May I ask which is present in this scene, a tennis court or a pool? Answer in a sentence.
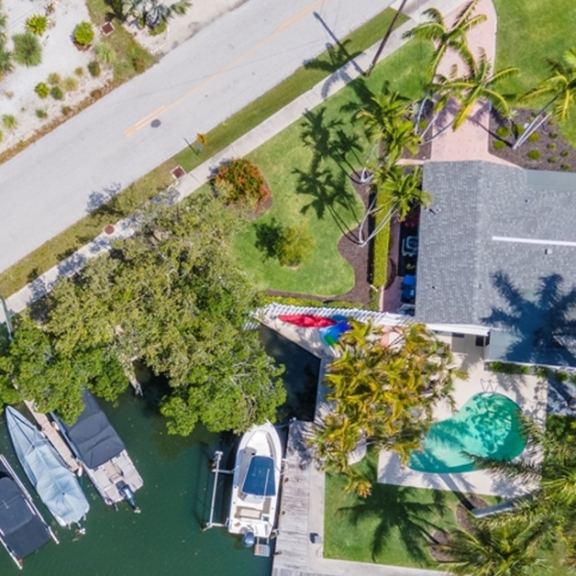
This aerial view contains a pool.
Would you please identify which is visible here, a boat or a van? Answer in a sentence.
The one in the frame is a boat.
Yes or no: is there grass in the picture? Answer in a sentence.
Yes, grass shows up in the scene.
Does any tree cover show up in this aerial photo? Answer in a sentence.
Yes, tree cover can be seen from above here.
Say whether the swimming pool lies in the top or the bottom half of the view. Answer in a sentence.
It is in the bottom half that the swimming pool appears.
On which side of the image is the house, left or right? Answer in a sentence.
It is on the right.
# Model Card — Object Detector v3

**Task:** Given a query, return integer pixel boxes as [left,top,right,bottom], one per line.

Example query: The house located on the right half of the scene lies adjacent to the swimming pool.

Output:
[405,161,576,387]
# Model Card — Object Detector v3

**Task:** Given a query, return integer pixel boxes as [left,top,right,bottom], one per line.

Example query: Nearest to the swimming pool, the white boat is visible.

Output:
[228,422,284,556]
